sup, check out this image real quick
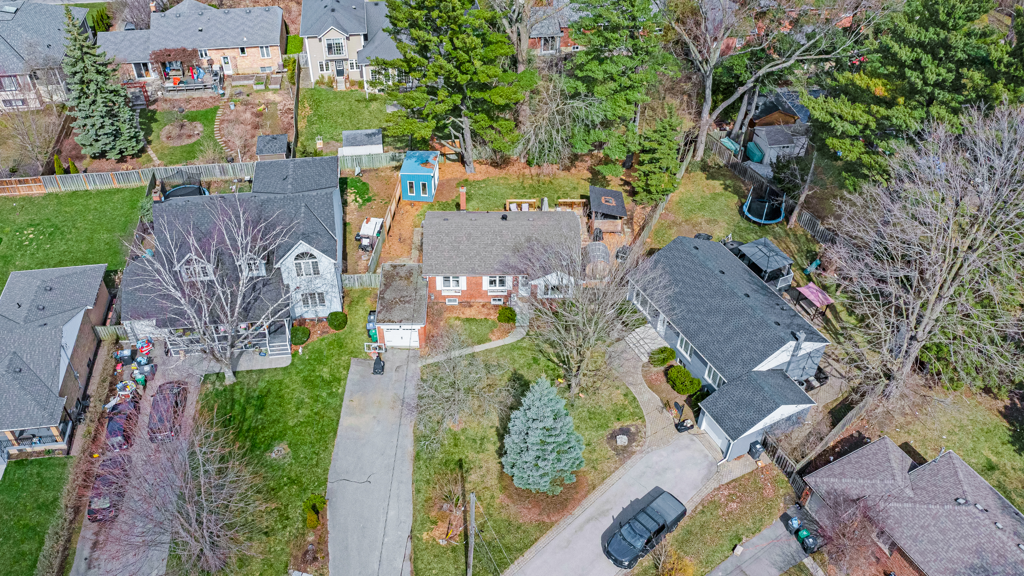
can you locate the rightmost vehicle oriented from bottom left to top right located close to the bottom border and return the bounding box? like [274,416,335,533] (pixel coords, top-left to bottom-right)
[606,493,687,571]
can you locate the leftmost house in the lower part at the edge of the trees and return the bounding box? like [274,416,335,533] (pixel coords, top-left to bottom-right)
[0,263,110,457]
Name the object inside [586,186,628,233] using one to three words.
building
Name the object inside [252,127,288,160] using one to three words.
shed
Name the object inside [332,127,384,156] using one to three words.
shed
